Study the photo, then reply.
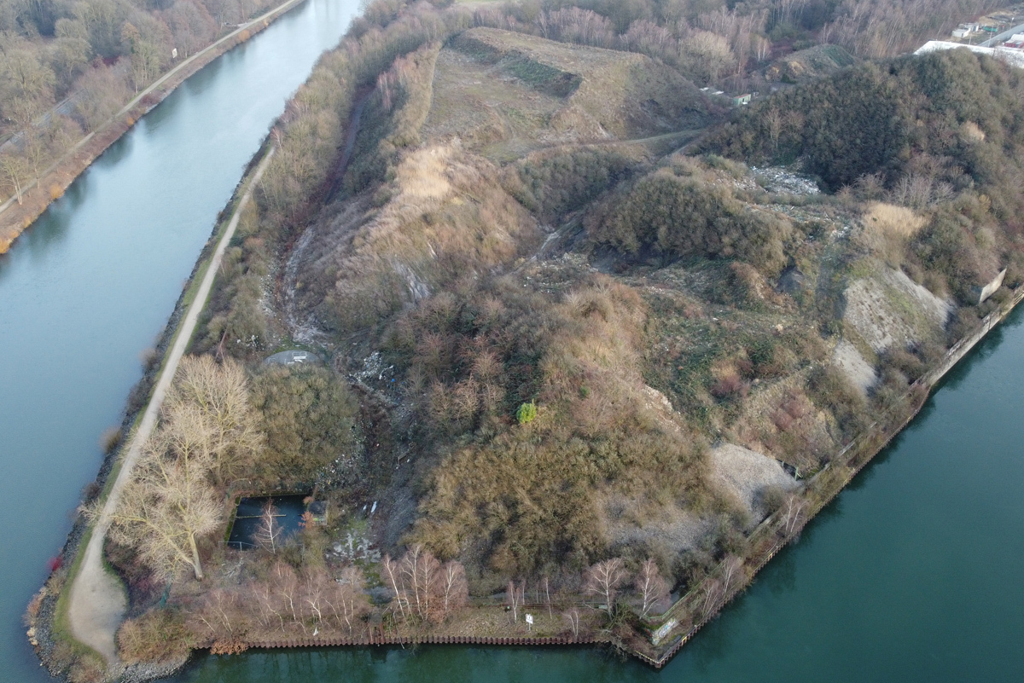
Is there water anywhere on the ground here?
Yes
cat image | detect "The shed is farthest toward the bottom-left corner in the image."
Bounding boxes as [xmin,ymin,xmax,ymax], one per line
[306,502,331,525]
